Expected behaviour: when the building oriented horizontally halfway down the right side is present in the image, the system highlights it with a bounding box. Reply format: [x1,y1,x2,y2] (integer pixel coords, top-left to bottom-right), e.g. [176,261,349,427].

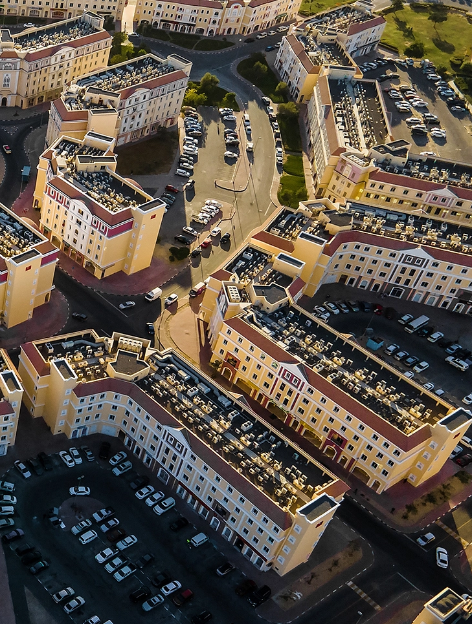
[250,198,472,311]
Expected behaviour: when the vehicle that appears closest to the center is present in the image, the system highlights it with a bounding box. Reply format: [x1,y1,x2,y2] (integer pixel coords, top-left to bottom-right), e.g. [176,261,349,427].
[189,282,203,295]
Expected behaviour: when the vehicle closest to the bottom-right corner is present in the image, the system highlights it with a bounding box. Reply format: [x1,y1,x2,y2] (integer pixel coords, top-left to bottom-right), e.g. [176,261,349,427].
[435,549,448,568]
